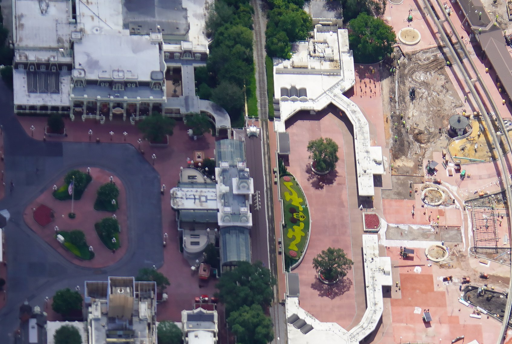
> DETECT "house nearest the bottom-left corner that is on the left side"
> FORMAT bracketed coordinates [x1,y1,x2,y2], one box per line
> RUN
[20,298,47,344]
